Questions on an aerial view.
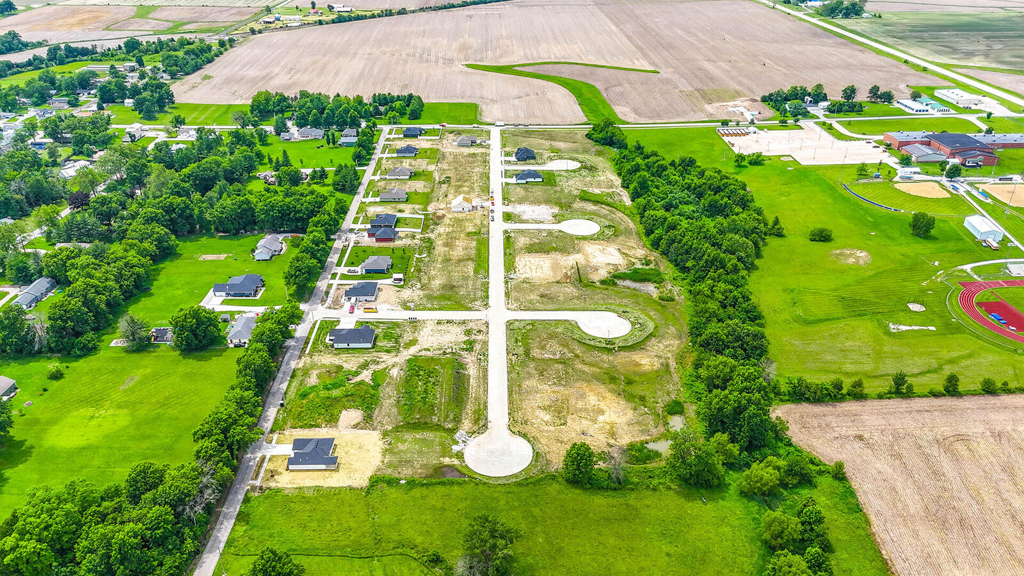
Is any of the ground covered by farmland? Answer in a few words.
Yes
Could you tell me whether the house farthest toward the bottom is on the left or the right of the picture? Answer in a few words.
left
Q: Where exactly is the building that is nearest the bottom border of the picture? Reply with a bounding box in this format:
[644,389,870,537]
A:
[285,435,341,471]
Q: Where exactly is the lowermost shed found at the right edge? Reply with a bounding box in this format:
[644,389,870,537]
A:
[959,214,1005,241]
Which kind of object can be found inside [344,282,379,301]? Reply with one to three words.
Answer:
house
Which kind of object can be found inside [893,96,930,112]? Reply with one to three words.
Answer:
building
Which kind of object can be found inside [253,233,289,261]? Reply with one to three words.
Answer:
house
